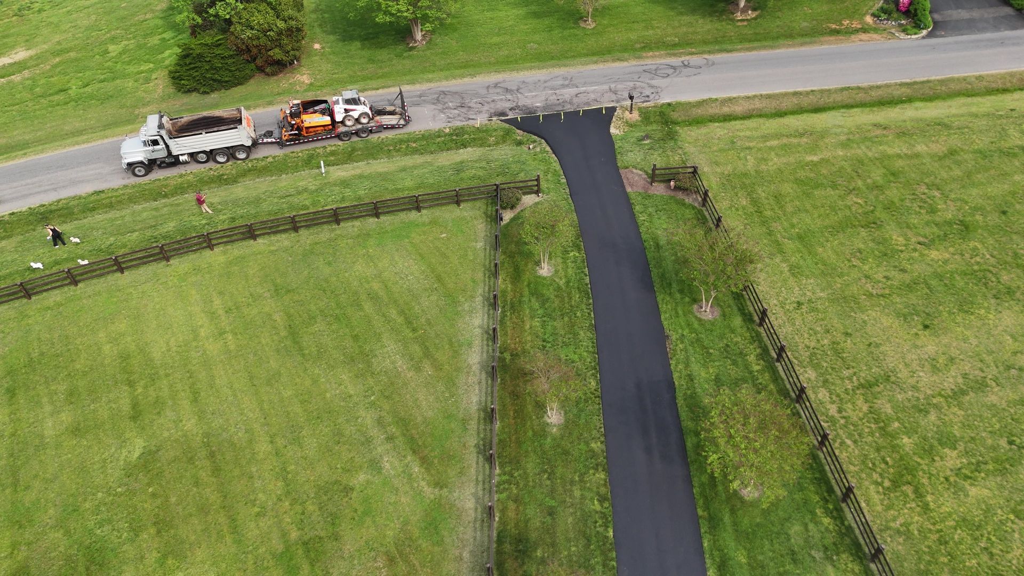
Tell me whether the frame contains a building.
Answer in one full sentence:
No, the frame has no building in it.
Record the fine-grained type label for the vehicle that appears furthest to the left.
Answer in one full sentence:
I'd identify the vehicle that appears furthest to the left as a truck.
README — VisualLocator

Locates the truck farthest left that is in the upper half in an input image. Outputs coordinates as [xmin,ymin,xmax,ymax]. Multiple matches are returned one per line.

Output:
[124,104,258,177]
